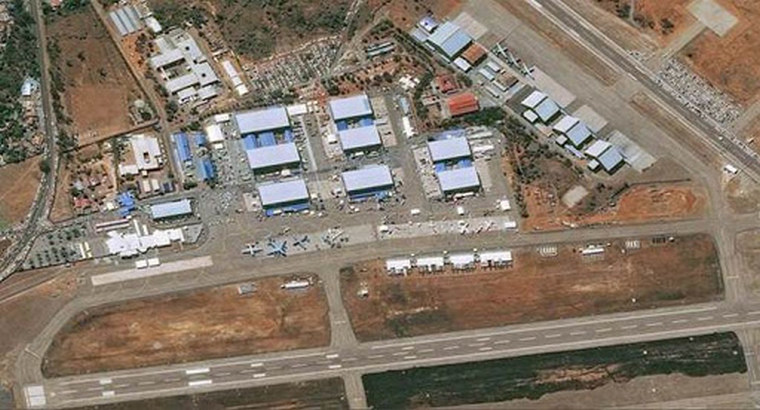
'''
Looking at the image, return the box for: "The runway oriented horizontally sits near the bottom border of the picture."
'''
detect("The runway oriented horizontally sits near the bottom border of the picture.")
[22,303,760,410]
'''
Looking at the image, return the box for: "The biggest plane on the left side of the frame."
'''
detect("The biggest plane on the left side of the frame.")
[264,234,287,254]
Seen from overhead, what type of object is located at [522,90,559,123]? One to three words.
hangar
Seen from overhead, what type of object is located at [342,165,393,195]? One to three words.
building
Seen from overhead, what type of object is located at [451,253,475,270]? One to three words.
house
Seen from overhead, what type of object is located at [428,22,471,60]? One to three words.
hangar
